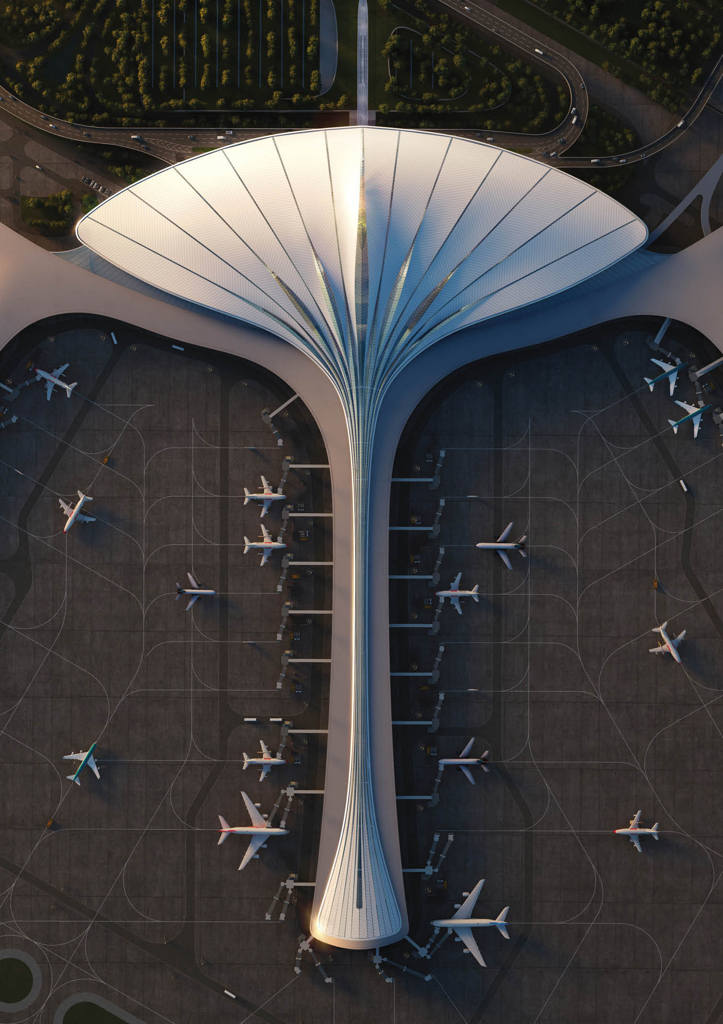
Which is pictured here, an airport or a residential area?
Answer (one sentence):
What you see here is an airport.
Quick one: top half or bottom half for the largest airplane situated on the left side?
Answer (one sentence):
The bottom half of the photo is where the largest airplane situated on the left side is.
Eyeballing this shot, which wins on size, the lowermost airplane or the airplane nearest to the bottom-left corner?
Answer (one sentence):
Compared with the airplane nearest to the bottom-left corner, the lowermost airplane is the larger one.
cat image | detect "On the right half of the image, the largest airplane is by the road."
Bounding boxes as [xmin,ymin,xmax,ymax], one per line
[431,881,510,968]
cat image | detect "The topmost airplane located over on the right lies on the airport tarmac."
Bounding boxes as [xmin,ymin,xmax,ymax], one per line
[644,358,689,396]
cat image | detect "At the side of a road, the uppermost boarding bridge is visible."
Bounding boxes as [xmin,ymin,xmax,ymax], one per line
[643,318,683,365]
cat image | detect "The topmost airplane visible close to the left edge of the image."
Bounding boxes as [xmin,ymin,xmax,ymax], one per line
[34,363,75,400]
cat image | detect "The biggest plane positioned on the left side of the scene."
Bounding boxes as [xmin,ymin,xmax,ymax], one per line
[215,792,289,872]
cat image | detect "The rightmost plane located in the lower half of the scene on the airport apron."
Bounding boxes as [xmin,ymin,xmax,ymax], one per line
[650,621,688,664]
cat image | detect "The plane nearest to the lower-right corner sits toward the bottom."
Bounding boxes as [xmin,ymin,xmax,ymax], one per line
[614,810,661,853]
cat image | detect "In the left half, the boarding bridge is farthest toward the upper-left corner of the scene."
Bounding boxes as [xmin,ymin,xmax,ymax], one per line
[0,373,43,401]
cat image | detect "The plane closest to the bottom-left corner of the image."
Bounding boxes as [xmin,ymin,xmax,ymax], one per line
[61,743,99,788]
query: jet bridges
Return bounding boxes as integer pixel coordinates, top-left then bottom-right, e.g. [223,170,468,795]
[389,546,444,587]
[392,450,444,490]
[295,932,333,983]
[389,595,444,635]
[389,498,444,538]
[276,721,328,760]
[266,779,324,827]
[403,832,453,880]
[276,650,331,689]
[391,643,444,684]
[277,456,330,495]
[643,318,683,365]
[712,405,723,442]
[277,602,332,641]
[277,554,333,592]
[0,415,19,431]
[397,762,444,807]
[260,395,297,446]
[0,373,43,401]
[277,505,333,544]
[406,926,452,959]
[265,871,315,920]
[393,692,444,733]
[688,358,723,408]
[368,948,433,982]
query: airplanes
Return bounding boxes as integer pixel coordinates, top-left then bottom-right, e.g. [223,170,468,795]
[667,401,712,439]
[438,737,490,787]
[242,740,288,782]
[243,525,288,567]
[644,358,689,396]
[215,792,289,872]
[57,489,95,533]
[34,363,75,400]
[614,810,661,853]
[434,572,480,615]
[175,572,216,611]
[650,621,688,664]
[244,476,288,518]
[476,521,527,571]
[431,881,510,968]
[61,743,99,788]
